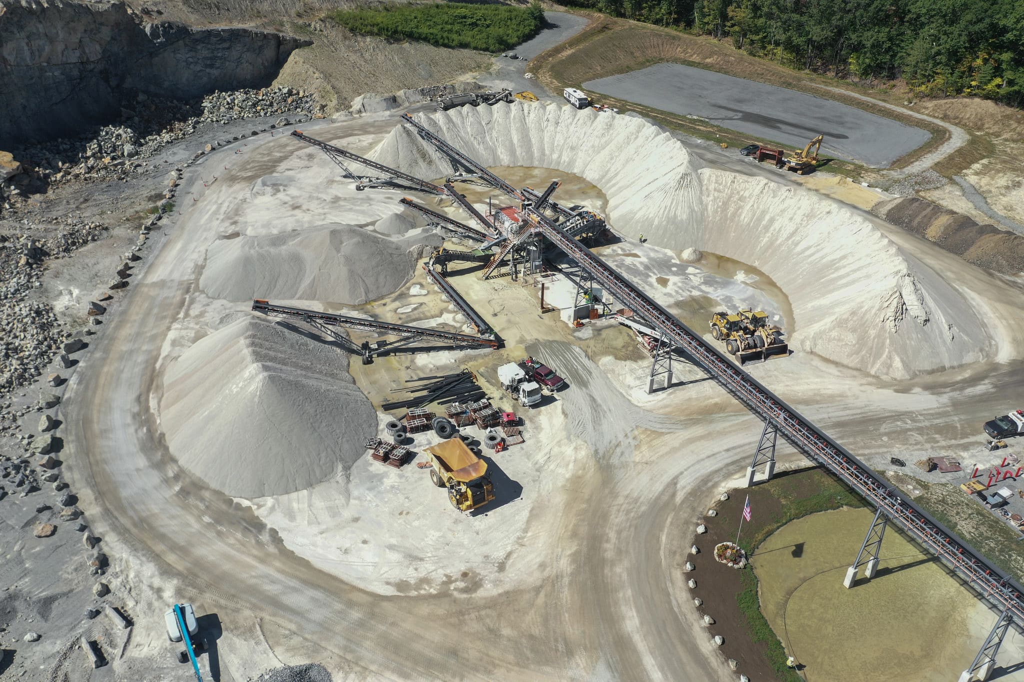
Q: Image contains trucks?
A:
Yes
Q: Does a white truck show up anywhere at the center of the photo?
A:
Yes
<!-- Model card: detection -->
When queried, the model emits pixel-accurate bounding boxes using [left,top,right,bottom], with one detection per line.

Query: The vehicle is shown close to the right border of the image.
[985,411,1024,440]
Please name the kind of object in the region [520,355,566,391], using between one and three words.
truck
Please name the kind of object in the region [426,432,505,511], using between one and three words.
truck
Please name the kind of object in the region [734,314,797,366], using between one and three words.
work vehicle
